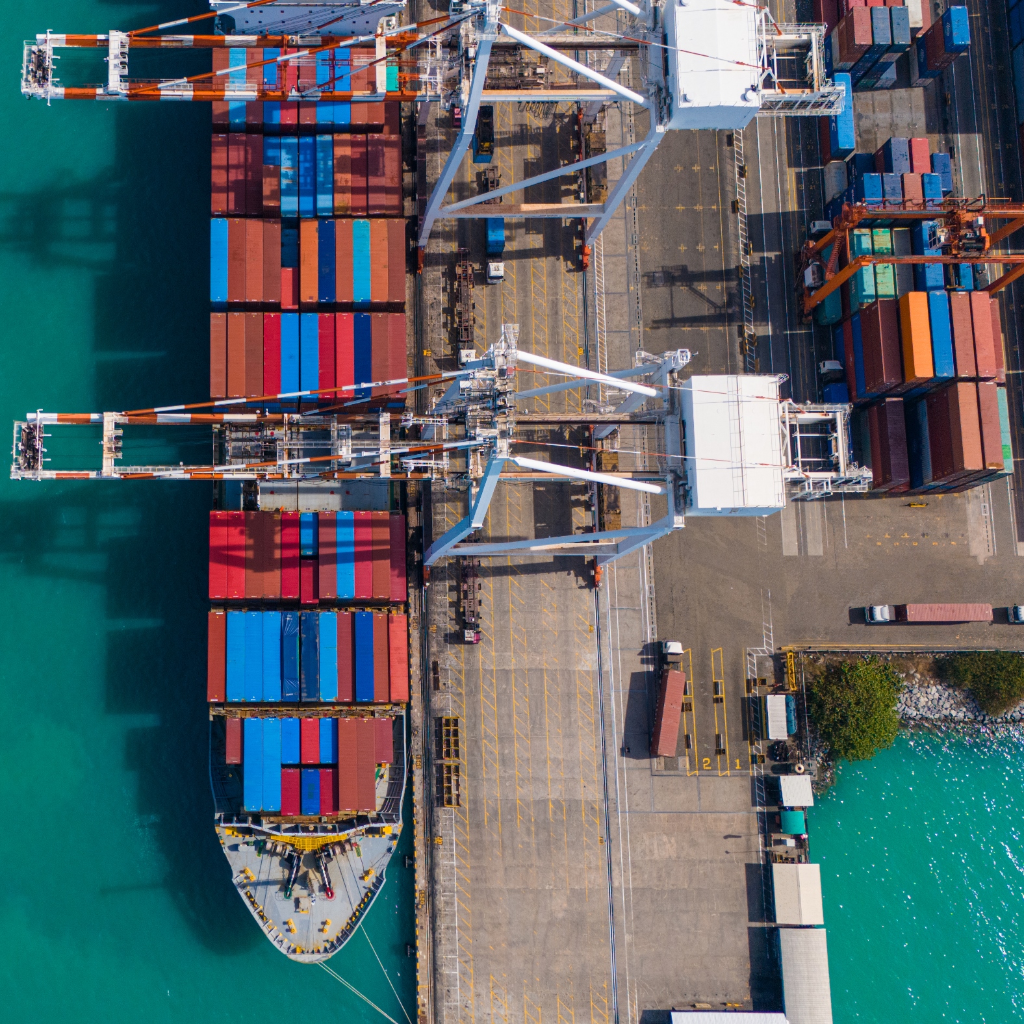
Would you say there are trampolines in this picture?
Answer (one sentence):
No, no trampoline is visible in the scene.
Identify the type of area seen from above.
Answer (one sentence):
It's a port.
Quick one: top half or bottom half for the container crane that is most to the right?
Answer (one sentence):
The container crane that is most to the right is in the top half of the image.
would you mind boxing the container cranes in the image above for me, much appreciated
[22,0,853,269]
[800,187,1024,323]
[9,316,883,590]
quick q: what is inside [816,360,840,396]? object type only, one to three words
truck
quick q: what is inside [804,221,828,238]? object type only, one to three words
vehicle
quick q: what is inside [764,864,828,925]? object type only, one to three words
shed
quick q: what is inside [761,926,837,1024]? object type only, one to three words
shed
